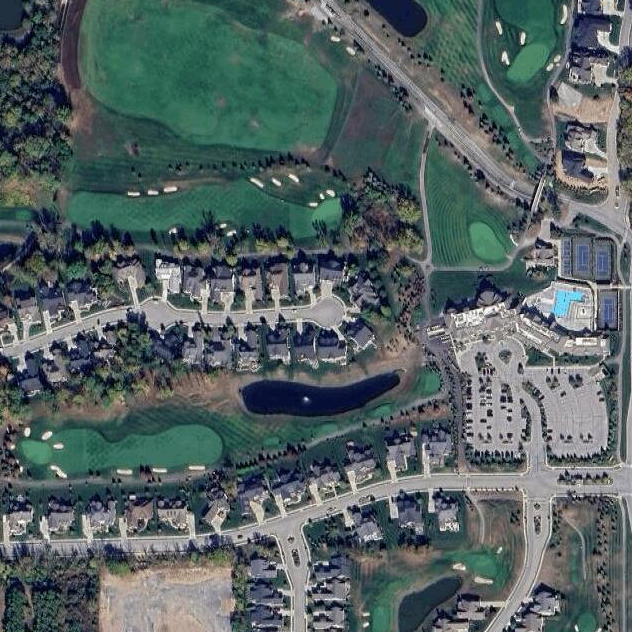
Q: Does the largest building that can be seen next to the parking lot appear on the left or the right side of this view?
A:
right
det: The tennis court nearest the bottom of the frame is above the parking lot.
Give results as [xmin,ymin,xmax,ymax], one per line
[599,293,617,328]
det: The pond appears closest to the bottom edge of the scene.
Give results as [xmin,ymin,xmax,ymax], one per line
[397,575,462,632]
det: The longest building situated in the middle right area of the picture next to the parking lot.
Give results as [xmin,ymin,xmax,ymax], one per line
[441,286,612,357]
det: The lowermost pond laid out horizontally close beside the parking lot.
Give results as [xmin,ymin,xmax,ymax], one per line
[238,371,400,416]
